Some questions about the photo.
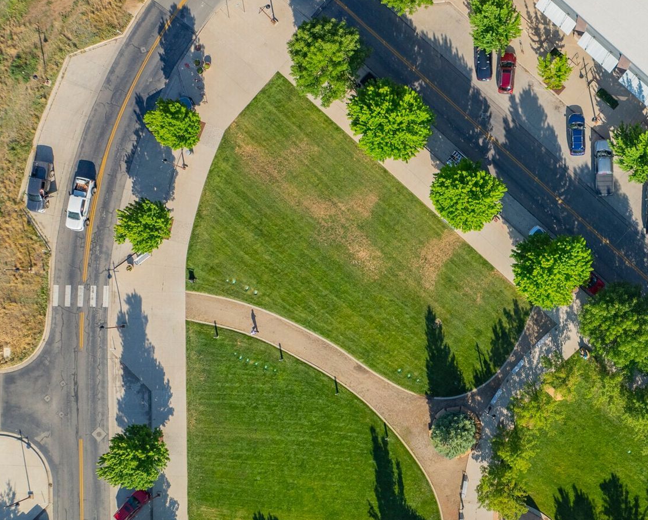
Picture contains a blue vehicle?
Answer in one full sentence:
Yes, the image includes a blue vehicle.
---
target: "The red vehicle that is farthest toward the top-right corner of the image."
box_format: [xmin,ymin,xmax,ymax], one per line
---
[495,49,517,93]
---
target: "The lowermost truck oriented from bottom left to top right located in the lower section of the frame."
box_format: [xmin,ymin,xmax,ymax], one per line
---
[104,490,150,520]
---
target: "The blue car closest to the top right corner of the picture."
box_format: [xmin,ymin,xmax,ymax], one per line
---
[567,111,589,155]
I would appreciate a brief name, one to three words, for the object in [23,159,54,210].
truck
